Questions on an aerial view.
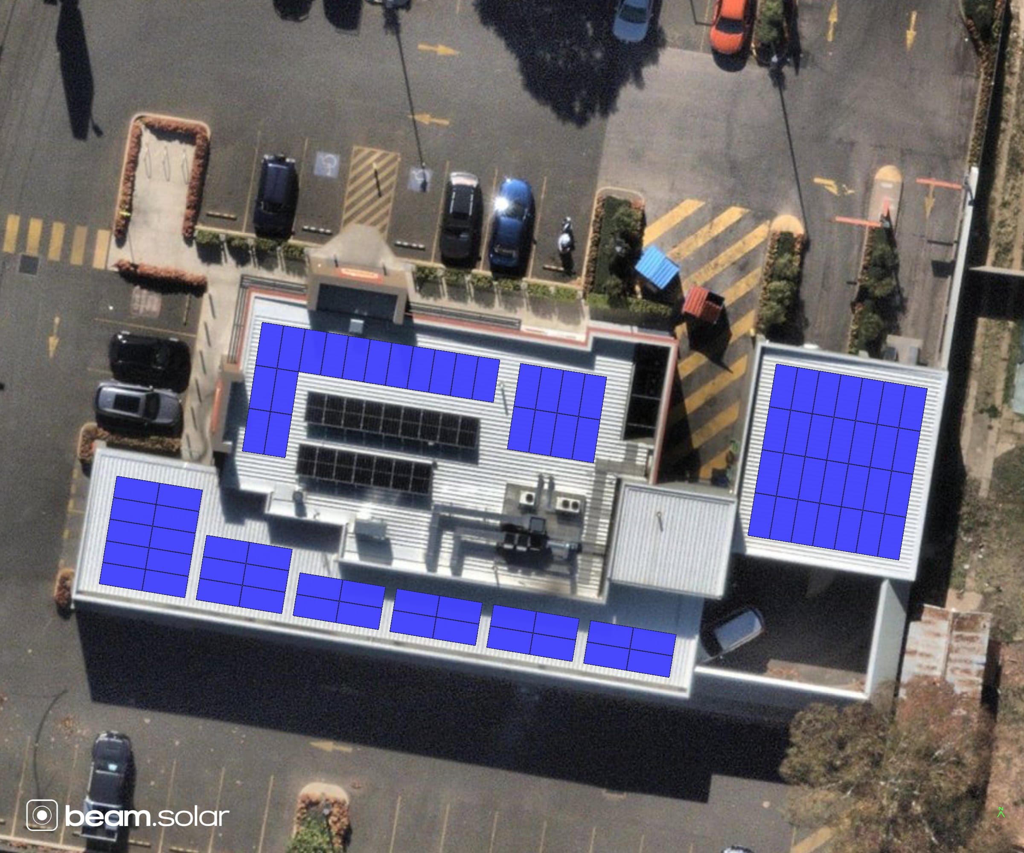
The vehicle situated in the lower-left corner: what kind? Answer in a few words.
truck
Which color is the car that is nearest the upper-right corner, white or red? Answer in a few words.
red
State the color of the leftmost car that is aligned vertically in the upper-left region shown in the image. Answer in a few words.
black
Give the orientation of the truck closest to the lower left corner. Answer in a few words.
from top to bottom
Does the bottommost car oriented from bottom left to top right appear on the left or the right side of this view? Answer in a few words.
right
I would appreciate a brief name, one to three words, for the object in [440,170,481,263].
car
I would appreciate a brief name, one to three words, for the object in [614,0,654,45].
car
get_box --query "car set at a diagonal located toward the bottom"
[699,603,771,665]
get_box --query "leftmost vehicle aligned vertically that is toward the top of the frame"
[254,151,296,240]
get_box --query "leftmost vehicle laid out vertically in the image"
[81,728,129,843]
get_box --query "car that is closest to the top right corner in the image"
[710,0,752,57]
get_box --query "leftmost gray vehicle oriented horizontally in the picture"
[94,377,184,424]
